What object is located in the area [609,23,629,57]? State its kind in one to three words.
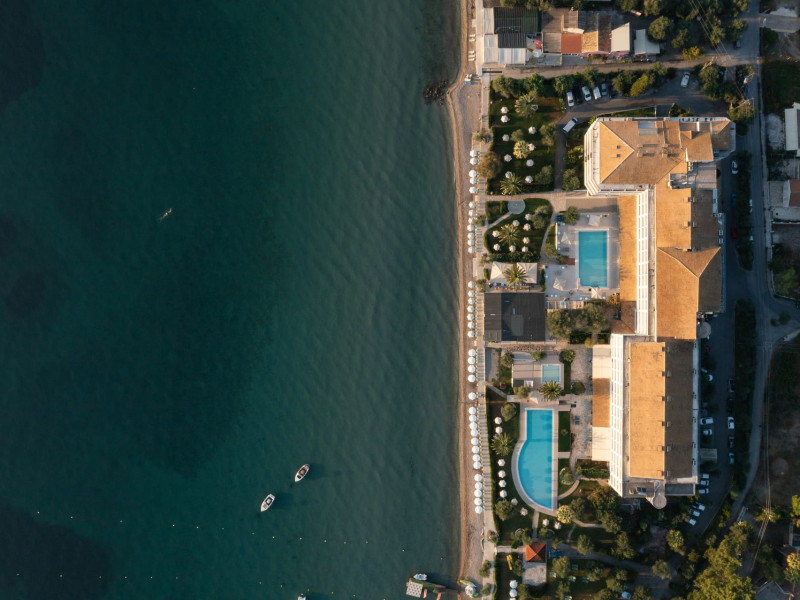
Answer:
house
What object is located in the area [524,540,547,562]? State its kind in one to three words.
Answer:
building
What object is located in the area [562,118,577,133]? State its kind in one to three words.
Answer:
vehicle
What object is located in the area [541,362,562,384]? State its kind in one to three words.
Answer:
swimming pool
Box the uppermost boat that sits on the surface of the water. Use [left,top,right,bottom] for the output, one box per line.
[295,463,310,482]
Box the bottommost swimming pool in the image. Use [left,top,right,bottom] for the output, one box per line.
[516,408,554,511]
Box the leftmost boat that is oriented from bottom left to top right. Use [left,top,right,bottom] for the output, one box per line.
[261,493,275,512]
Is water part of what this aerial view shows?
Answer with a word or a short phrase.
Yes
